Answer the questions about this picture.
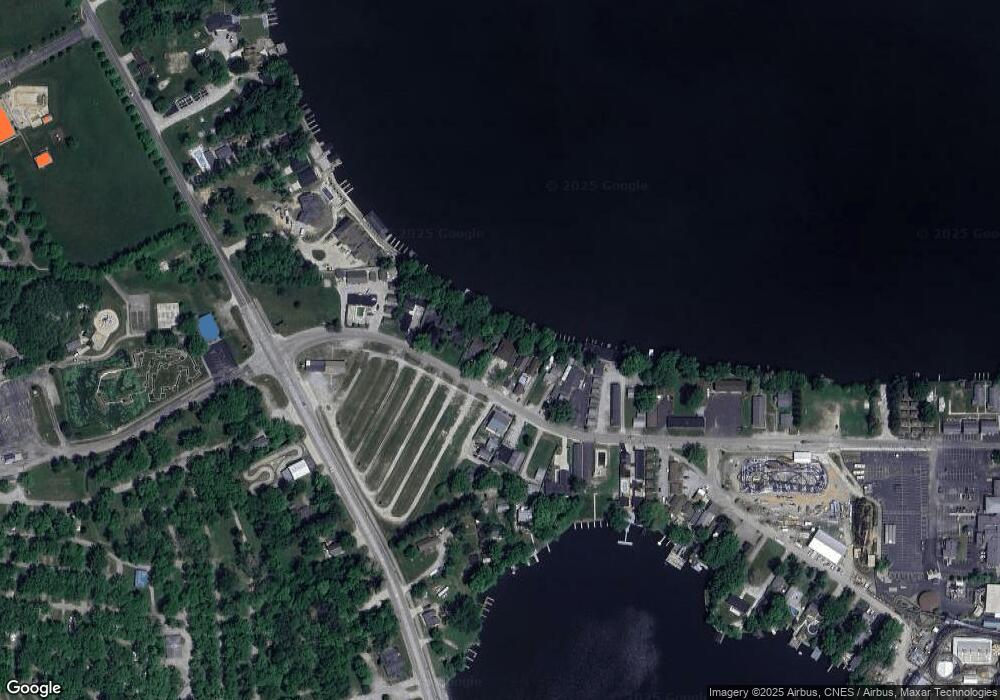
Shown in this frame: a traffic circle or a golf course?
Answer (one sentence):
Of the two, only a golf course appears.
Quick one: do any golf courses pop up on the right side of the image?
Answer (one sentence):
No, there's no golf course to be seen on the right side of the image.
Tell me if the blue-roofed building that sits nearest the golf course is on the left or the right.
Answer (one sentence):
The blue-roofed building that sits nearest the golf course is on the left side of the image.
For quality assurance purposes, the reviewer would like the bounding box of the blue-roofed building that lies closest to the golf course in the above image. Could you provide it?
[197,314,220,341]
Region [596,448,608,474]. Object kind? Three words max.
swimming pool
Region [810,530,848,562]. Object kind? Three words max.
building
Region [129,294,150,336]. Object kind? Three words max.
tennis court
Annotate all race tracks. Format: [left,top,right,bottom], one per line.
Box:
[243,444,316,495]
